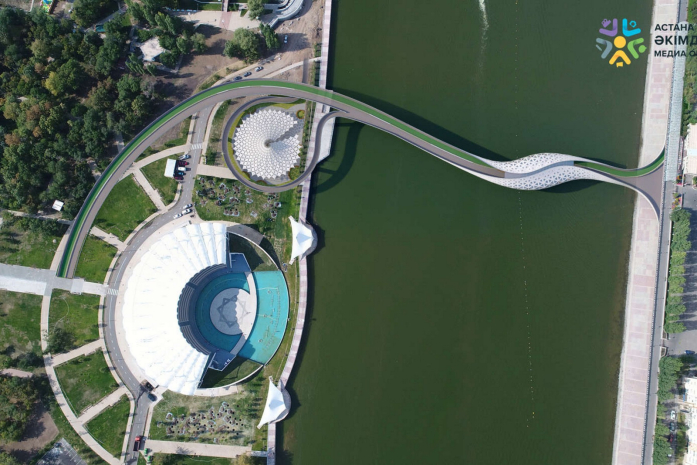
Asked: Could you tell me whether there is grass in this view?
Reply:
Yes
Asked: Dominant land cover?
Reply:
water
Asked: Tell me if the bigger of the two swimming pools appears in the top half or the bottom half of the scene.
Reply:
bottom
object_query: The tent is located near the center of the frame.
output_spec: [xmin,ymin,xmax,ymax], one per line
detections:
[290,216,316,264]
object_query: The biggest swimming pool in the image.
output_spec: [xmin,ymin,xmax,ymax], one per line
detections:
[237,271,289,363]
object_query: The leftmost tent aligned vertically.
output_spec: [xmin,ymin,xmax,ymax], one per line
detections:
[257,375,289,428]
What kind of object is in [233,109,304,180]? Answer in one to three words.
building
